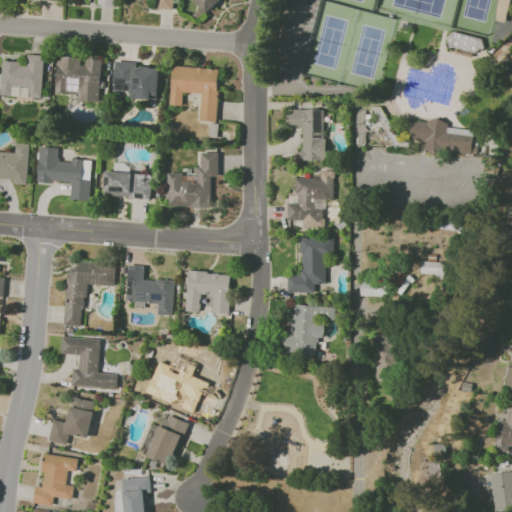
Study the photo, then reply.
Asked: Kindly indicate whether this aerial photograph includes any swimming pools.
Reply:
Yes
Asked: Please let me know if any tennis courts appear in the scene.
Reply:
Yes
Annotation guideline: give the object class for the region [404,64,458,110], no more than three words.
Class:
swimming pool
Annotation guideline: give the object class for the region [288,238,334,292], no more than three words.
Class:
house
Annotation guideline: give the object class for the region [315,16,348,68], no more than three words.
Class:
tennis court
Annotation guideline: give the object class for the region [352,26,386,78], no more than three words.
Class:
tennis court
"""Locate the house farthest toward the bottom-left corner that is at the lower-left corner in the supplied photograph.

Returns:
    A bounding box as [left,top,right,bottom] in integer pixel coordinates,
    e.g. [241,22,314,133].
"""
[32,454,80,506]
